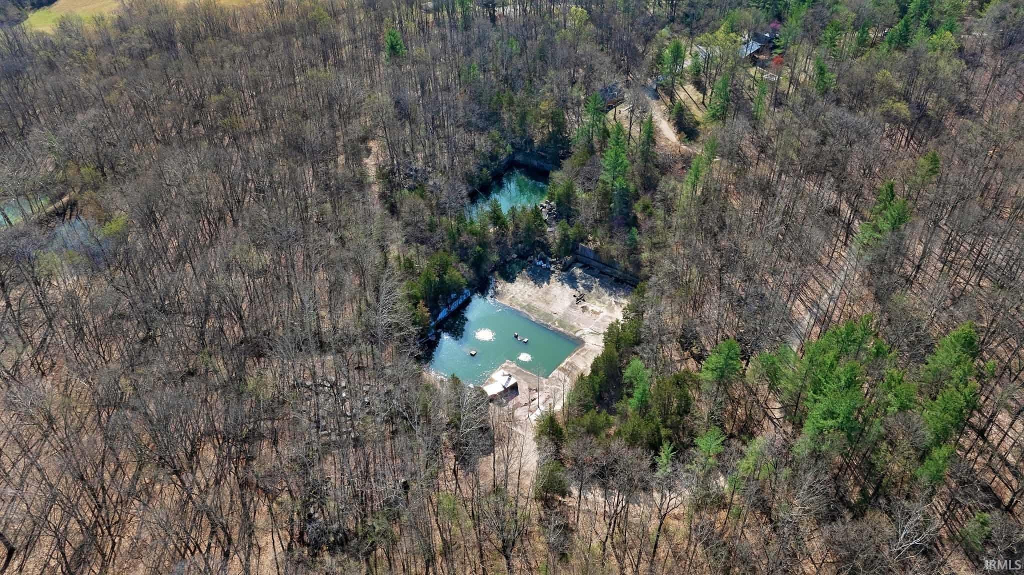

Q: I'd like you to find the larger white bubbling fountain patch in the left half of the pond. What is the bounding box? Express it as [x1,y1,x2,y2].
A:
[467,325,502,345]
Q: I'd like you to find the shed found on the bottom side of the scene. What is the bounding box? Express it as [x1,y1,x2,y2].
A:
[483,370,516,401]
